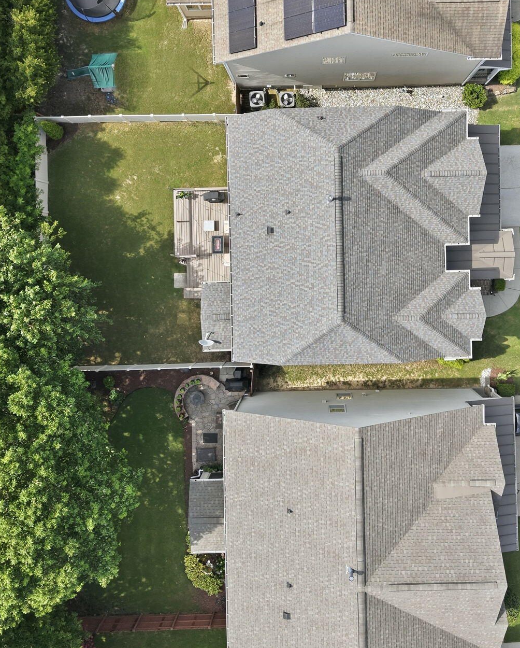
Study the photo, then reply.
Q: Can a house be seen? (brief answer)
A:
Yes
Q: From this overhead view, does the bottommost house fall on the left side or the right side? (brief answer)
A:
right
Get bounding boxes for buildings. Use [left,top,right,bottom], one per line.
[173,107,517,366]
[189,386,520,648]
[167,0,514,90]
